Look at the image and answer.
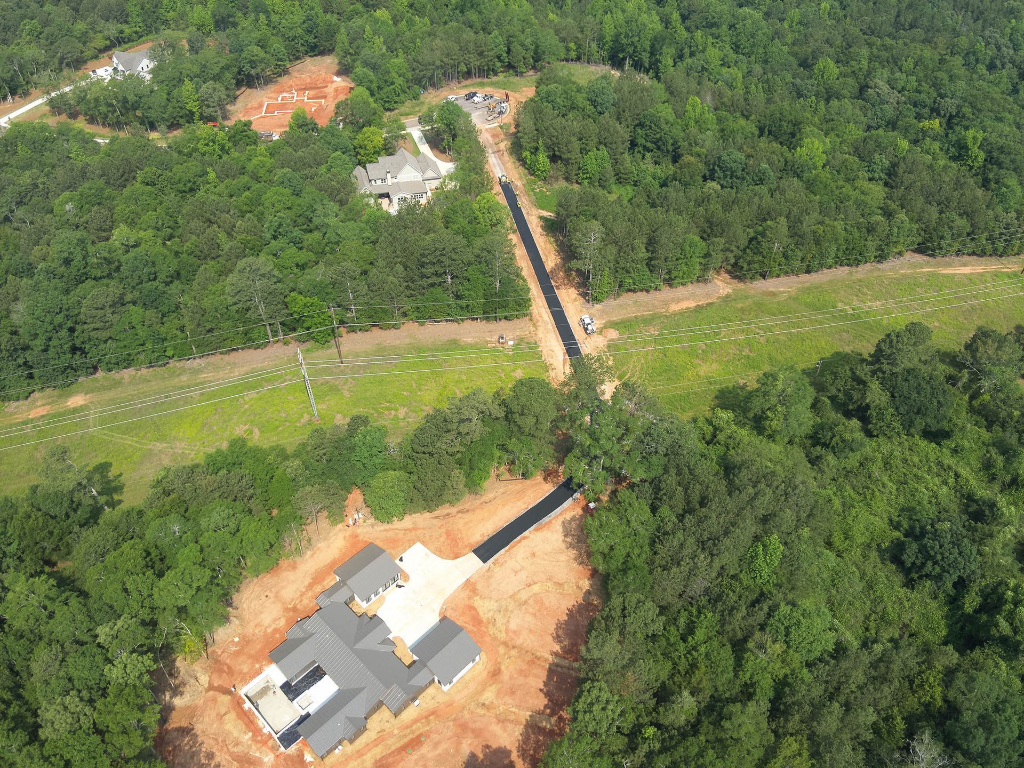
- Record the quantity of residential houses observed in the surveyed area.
3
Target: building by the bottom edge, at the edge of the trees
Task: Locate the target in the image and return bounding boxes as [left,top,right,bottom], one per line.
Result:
[267,542,483,761]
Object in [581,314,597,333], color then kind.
white vehicle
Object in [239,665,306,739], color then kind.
white swimming pool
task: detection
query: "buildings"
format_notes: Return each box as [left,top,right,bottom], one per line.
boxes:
[267,542,483,761]
[113,42,165,78]
[360,148,442,206]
